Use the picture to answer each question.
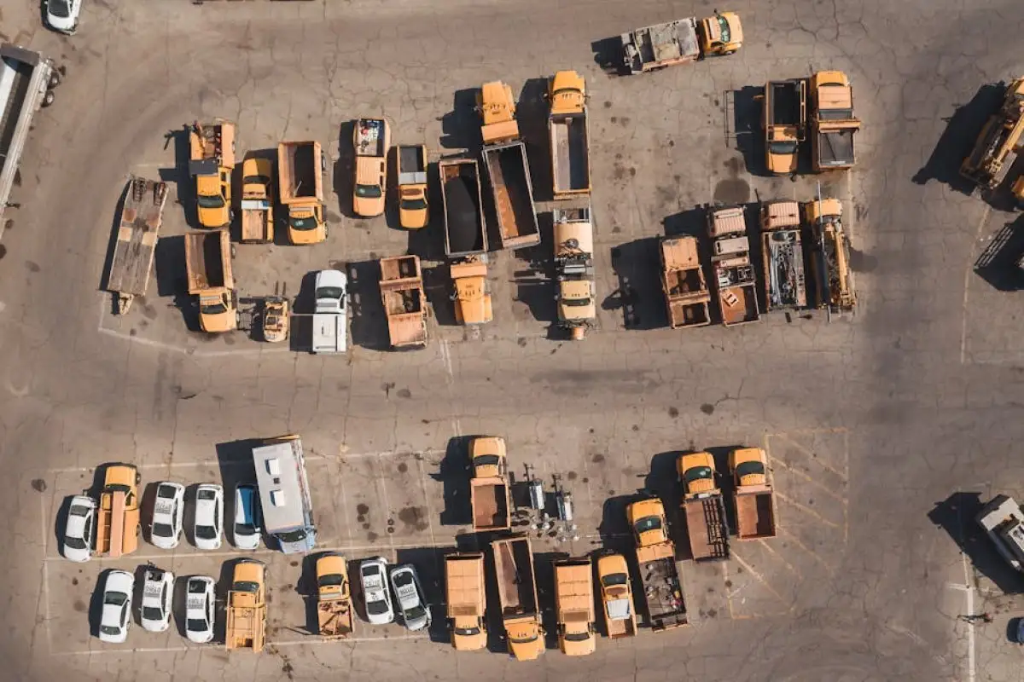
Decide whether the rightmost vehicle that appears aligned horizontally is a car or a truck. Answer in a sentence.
The rightmost vehicle that appears aligned horizontally can be classified as a truck.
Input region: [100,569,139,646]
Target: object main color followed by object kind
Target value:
white car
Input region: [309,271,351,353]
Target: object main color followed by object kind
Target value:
white truck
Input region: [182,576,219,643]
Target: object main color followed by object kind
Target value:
white car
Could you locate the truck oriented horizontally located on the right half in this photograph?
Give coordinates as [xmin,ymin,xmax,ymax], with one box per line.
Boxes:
[623,9,743,72]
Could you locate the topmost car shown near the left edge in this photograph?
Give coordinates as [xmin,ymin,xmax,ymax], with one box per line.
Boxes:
[47,0,84,34]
